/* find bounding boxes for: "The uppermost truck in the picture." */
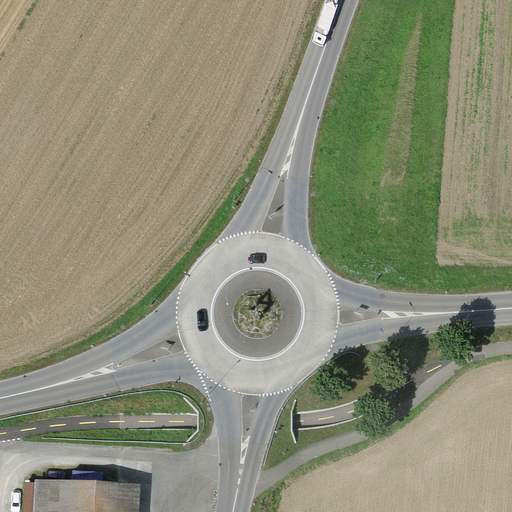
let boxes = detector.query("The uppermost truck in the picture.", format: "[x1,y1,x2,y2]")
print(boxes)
[311,0,337,47]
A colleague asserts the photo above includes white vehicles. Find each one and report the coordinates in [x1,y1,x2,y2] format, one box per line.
[311,0,337,47]
[10,490,21,512]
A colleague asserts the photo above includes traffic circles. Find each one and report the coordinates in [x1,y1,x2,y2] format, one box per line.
[176,231,340,401]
